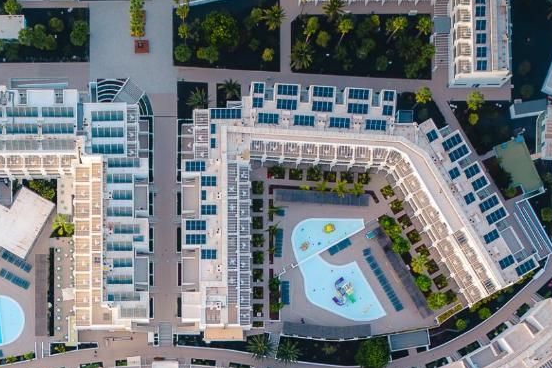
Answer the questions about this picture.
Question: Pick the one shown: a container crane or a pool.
pool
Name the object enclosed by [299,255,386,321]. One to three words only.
swimming pool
